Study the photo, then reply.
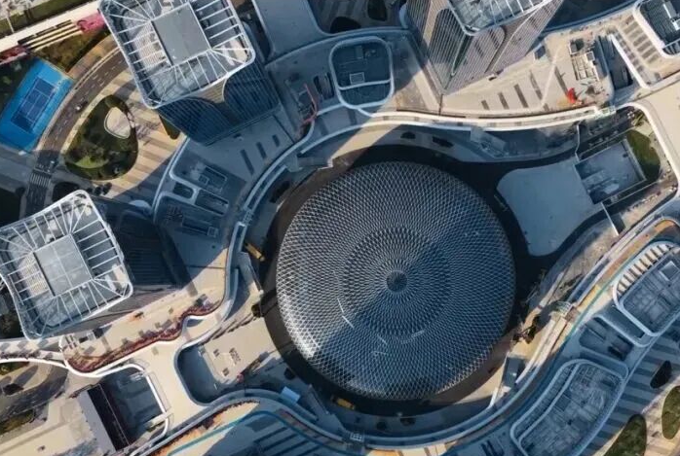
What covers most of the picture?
buildings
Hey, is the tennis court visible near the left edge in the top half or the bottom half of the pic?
top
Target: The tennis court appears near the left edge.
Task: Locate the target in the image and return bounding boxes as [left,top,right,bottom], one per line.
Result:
[0,59,74,151]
